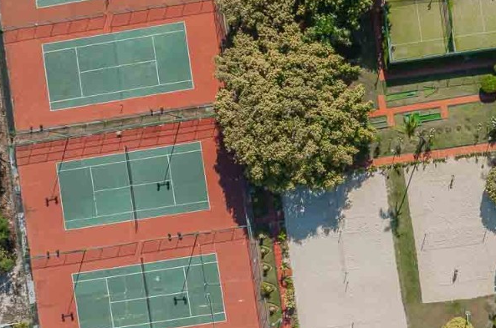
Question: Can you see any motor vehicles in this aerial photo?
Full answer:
No, the scene contains no motor vehicle.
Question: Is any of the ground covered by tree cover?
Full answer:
Yes, the picture does contain tree cover.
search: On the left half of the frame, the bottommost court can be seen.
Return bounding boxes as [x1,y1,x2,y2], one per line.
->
[32,226,261,328]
